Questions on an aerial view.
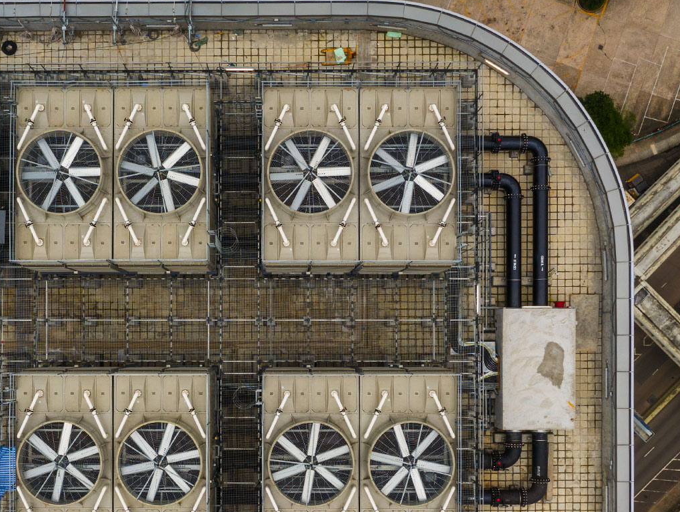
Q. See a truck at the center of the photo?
No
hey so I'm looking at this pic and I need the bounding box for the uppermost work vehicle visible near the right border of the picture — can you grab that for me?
[619,166,650,194]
